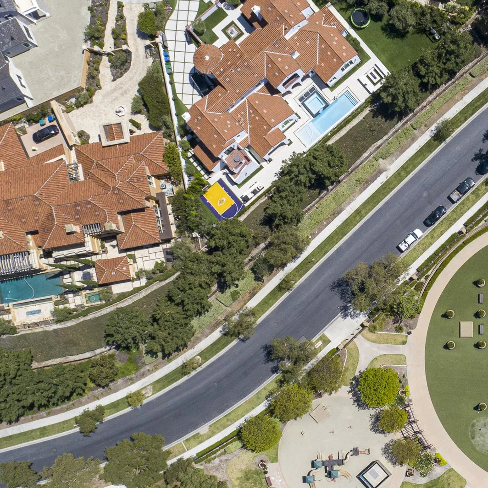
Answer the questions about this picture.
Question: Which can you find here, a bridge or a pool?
pool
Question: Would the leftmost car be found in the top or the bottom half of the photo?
top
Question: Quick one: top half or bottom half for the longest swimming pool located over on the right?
top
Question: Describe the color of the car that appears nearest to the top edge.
black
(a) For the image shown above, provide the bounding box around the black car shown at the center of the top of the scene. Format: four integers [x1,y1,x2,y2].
[187,67,209,94]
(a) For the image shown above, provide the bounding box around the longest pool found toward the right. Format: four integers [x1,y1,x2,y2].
[300,91,359,148]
